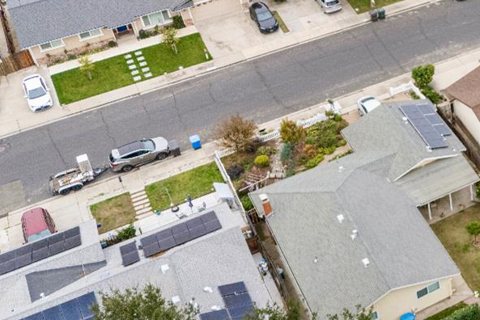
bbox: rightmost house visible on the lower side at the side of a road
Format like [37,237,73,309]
[250,98,480,320]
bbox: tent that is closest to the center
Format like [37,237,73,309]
[206,174,236,201]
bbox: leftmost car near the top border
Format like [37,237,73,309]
[248,1,279,30]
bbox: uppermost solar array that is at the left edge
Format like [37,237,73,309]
[0,224,82,273]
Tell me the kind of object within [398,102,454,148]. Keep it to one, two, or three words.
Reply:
solar array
